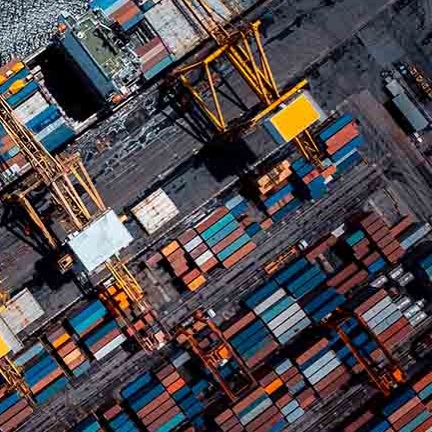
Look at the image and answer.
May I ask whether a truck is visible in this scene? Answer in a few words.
Yes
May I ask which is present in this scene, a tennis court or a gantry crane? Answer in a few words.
gantry crane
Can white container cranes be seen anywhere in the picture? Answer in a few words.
Yes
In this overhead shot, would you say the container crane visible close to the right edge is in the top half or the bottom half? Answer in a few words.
bottom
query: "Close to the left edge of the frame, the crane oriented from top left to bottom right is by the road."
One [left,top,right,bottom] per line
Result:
[0,83,152,311]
